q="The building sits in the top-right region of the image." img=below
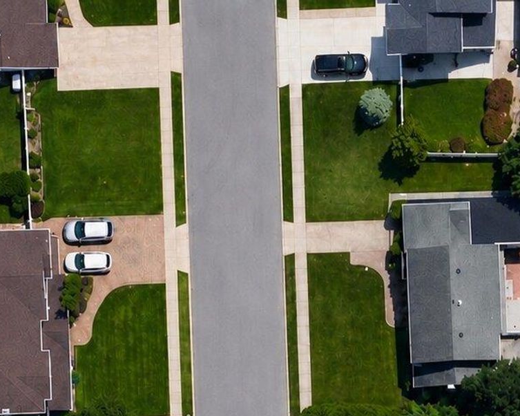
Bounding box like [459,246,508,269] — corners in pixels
[385,0,497,59]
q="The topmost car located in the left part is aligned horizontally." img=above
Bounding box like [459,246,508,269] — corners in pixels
[61,218,114,244]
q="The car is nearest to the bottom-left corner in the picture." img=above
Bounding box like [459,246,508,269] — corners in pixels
[63,250,112,274]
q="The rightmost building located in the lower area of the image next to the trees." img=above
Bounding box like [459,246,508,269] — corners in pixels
[402,196,520,393]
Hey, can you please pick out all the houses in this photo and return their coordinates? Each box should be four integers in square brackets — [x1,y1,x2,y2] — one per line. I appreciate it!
[402,196,520,393]
[385,0,497,59]
[0,230,73,416]
[0,0,60,71]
